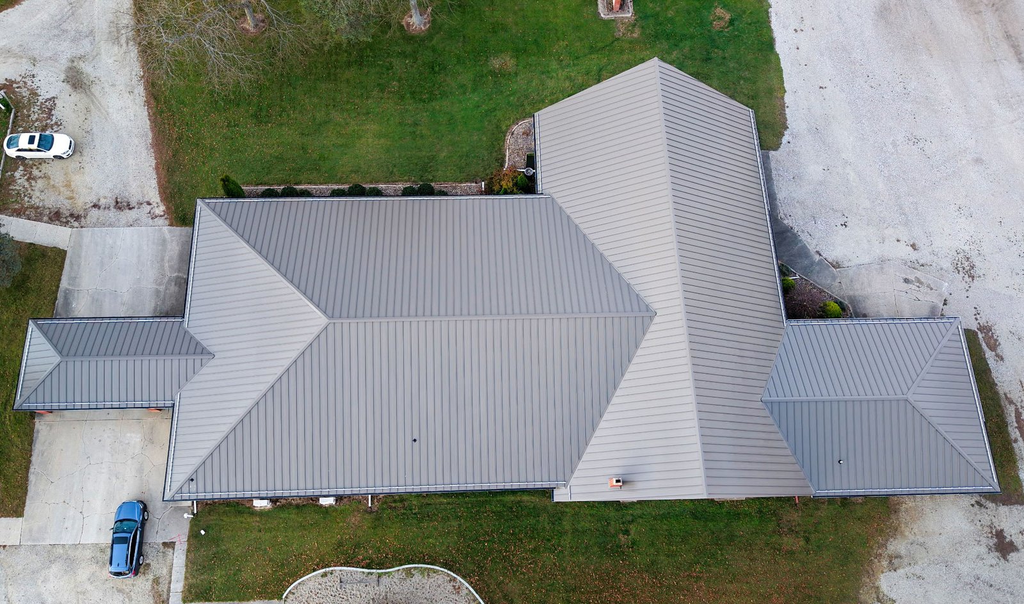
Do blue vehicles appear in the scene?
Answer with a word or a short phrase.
Yes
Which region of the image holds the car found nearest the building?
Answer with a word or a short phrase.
bottom left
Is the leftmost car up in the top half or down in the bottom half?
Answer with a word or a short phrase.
top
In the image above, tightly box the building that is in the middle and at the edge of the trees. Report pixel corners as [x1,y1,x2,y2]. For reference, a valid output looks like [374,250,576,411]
[11,57,1002,504]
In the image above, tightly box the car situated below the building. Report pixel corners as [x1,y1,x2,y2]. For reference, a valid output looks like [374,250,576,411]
[105,500,148,578]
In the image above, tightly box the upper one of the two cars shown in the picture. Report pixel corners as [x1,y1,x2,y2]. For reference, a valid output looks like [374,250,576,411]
[3,128,77,159]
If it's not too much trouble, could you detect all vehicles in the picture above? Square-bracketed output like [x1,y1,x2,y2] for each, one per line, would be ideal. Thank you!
[105,500,148,578]
[3,128,77,159]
